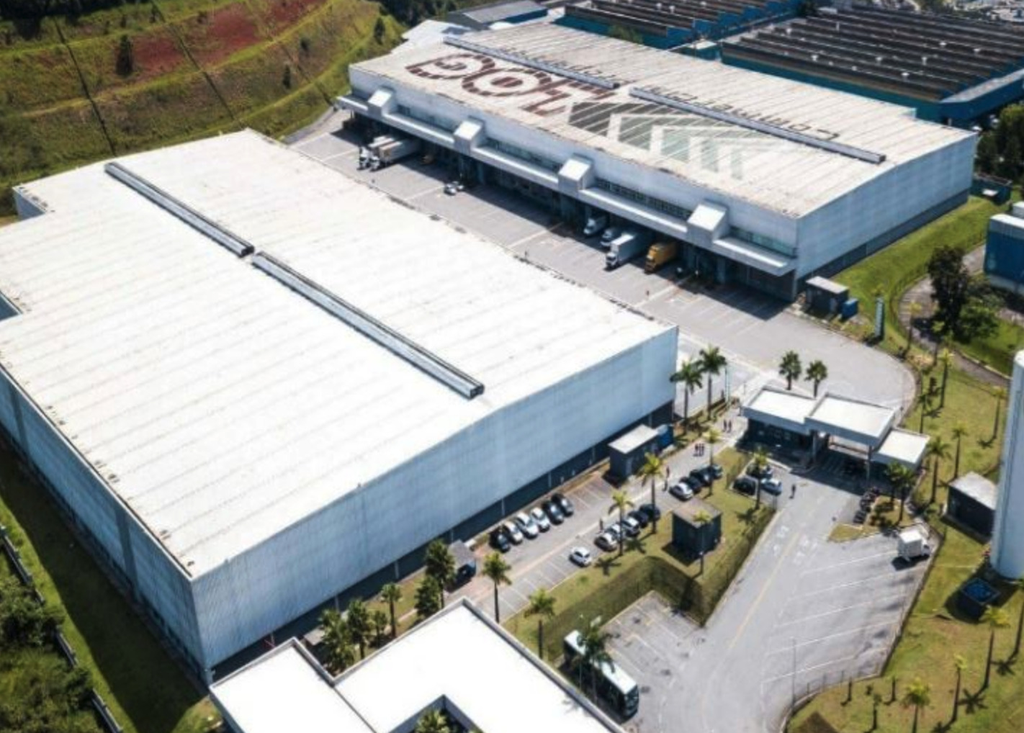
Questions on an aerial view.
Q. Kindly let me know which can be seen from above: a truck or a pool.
truck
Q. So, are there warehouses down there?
Yes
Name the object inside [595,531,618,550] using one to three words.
car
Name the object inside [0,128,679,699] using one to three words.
warehouse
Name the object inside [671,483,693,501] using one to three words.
car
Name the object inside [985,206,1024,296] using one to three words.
building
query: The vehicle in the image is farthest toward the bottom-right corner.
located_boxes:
[898,527,934,560]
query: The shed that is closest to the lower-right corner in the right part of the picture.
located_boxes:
[947,472,998,536]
